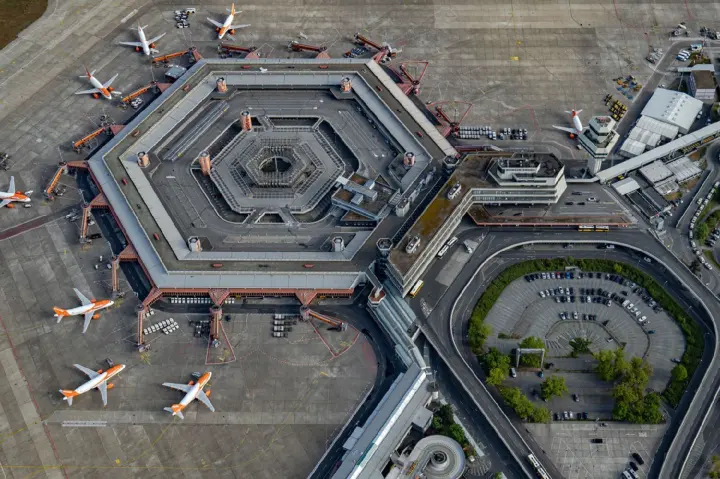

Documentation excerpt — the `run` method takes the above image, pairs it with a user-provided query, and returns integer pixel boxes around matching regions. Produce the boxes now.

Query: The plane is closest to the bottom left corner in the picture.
[59,364,125,407]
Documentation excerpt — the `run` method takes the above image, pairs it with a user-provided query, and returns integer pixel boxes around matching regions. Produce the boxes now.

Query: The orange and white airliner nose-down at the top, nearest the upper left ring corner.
[208,3,249,37]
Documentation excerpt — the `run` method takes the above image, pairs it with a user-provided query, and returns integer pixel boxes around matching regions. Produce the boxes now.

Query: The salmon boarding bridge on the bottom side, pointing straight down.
[207,290,230,345]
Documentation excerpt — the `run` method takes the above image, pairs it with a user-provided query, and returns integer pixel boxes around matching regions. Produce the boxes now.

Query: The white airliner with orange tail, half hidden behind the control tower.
[553,104,584,139]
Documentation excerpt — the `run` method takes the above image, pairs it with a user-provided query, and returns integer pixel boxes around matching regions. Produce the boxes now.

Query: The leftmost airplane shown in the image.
[0,177,30,209]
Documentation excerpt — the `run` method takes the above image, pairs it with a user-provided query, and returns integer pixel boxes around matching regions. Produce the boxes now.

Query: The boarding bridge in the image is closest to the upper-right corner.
[433,103,458,136]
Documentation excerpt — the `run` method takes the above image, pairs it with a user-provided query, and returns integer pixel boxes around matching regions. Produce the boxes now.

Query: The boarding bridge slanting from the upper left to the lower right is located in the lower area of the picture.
[295,290,347,330]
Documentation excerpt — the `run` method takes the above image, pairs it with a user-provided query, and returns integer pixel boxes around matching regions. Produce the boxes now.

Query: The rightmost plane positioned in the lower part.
[164,372,214,419]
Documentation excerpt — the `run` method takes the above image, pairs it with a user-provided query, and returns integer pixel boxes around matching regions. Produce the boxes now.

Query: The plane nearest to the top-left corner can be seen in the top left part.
[76,67,119,99]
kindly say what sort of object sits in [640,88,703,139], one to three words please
hangar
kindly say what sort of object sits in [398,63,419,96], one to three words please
jet bridge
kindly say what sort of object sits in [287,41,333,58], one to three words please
jet bridge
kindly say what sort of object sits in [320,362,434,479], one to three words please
building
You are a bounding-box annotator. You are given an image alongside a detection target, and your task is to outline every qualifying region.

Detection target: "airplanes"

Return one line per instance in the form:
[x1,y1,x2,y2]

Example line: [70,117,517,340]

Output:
[0,177,30,209]
[164,372,214,419]
[553,104,584,139]
[208,3,249,37]
[121,20,165,53]
[59,364,125,407]
[76,67,119,99]
[53,288,113,333]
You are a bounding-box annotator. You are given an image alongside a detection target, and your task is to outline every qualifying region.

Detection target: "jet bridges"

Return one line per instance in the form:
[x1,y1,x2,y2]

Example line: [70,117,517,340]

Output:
[287,41,333,58]
[135,283,167,352]
[352,32,389,65]
[118,79,173,106]
[44,159,91,196]
[110,240,138,297]
[398,63,419,96]
[218,41,263,58]
[149,46,204,65]
[207,290,230,345]
[79,191,110,243]
[433,103,458,136]
[295,290,347,330]
[69,121,125,151]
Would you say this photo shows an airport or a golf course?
airport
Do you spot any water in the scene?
No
